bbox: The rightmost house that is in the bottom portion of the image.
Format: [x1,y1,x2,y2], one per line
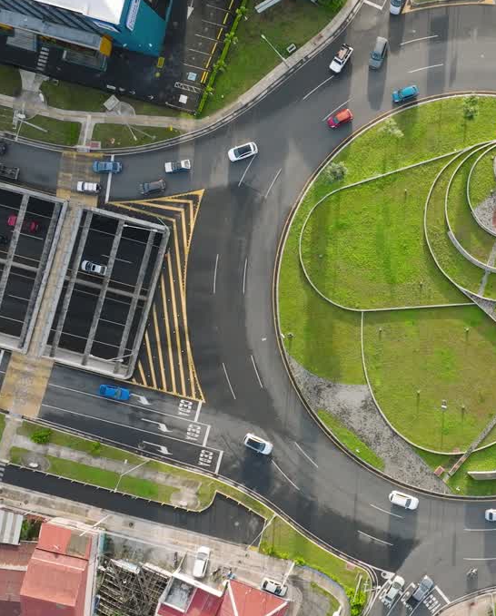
[221,576,289,616]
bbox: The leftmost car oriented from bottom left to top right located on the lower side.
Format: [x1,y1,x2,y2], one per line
[381,575,403,604]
